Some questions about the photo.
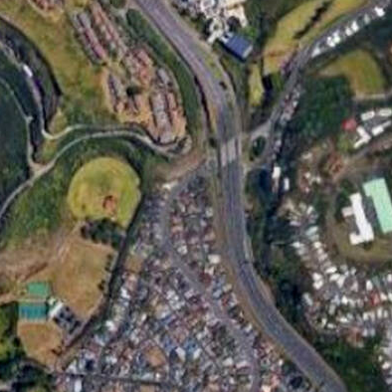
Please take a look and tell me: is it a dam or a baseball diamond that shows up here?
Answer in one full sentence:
Of the two, only a baseball diamond appears.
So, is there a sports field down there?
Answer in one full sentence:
Yes, looking at the shot, I can spot a sports field.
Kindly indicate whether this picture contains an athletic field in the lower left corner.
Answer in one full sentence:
Yes, an athletic field appears in the lower left corner.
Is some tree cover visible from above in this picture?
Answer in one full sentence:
Yes, tree cover shows up in the scene.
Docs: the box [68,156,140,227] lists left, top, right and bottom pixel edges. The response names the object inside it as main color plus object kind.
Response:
yellow baseball field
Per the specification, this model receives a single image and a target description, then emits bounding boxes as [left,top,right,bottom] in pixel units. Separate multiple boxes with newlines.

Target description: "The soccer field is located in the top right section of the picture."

[326,51,387,94]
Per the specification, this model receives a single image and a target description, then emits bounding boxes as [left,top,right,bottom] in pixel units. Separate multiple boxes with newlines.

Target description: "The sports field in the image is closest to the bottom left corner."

[16,319,70,369]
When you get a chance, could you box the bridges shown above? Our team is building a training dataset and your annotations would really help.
[215,131,242,166]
